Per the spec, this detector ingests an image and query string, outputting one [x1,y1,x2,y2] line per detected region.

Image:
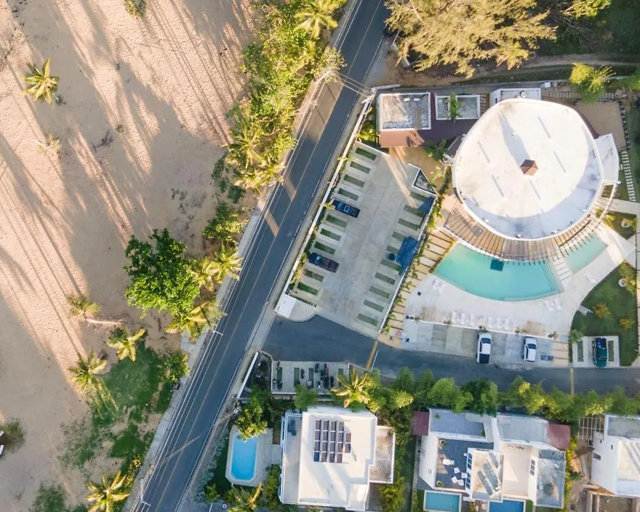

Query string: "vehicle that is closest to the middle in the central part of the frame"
[307,251,340,273]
